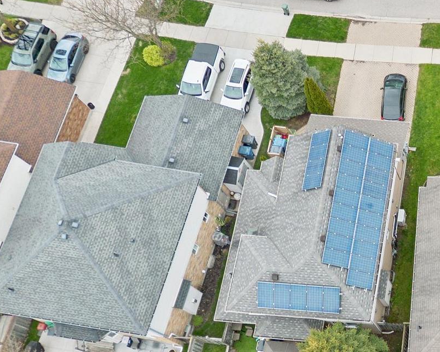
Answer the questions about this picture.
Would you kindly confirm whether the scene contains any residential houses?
Yes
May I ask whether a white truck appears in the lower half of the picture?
No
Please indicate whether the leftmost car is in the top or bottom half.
top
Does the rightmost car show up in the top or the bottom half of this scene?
top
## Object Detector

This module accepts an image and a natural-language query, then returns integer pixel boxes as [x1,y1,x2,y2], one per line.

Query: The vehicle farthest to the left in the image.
[9,22,59,75]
